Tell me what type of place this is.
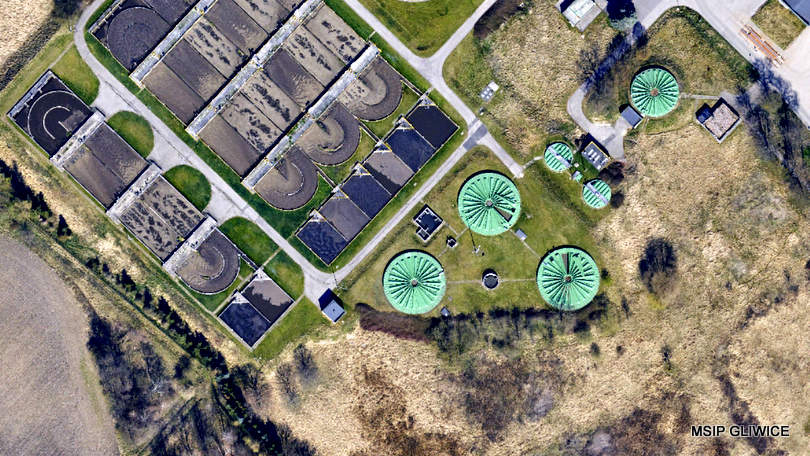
industrial area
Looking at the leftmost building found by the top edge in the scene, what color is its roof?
white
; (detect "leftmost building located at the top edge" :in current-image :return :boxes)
[555,0,608,32]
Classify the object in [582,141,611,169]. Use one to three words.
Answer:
building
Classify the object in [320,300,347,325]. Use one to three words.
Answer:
shed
